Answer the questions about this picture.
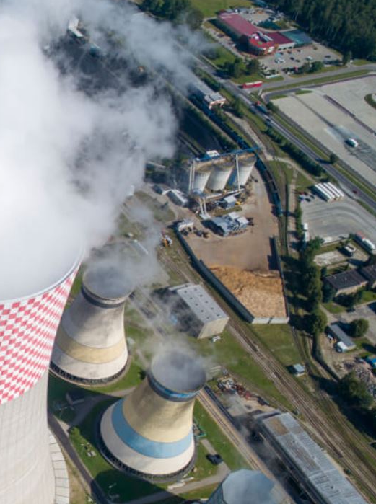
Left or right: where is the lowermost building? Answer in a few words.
right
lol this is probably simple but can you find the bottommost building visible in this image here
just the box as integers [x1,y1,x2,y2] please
[248,409,365,504]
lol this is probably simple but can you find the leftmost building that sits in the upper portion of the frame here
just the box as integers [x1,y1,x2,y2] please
[68,25,95,46]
